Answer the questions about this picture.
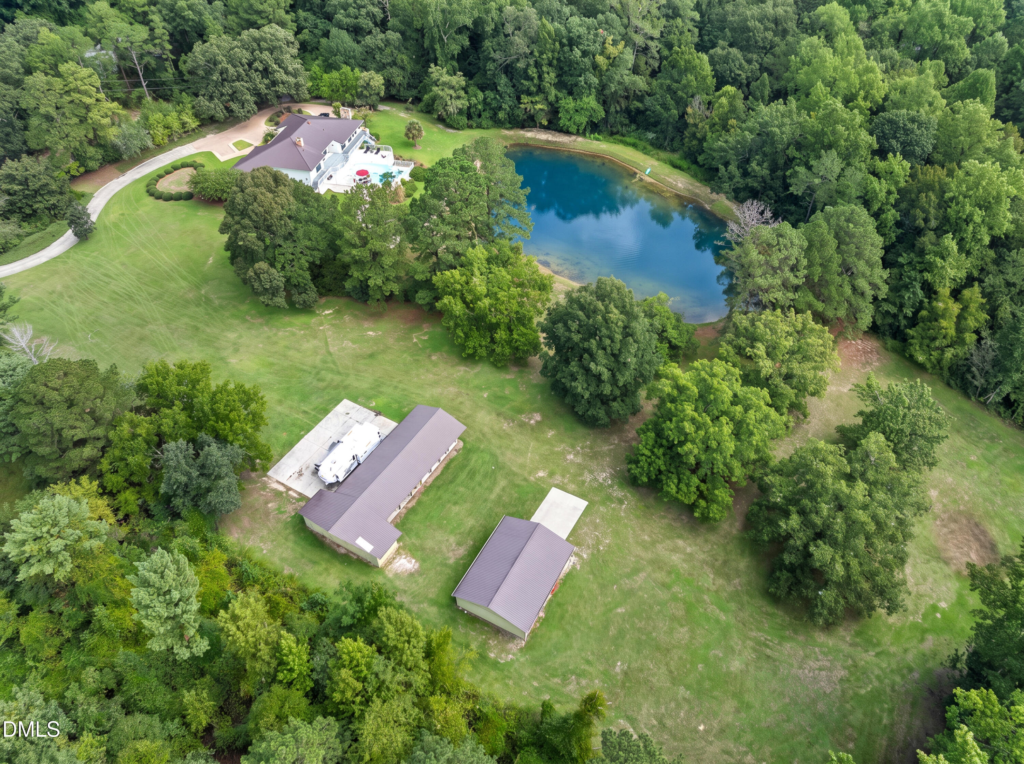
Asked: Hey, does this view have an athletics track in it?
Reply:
No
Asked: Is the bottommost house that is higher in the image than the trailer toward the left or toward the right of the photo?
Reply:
left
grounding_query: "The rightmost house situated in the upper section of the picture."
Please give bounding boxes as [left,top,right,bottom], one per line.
[231,106,386,189]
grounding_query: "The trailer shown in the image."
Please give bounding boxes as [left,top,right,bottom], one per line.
[319,421,382,490]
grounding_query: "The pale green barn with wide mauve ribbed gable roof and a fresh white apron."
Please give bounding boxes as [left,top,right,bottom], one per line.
[450,514,576,643]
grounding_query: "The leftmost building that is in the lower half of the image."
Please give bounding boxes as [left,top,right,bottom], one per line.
[297,403,467,567]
